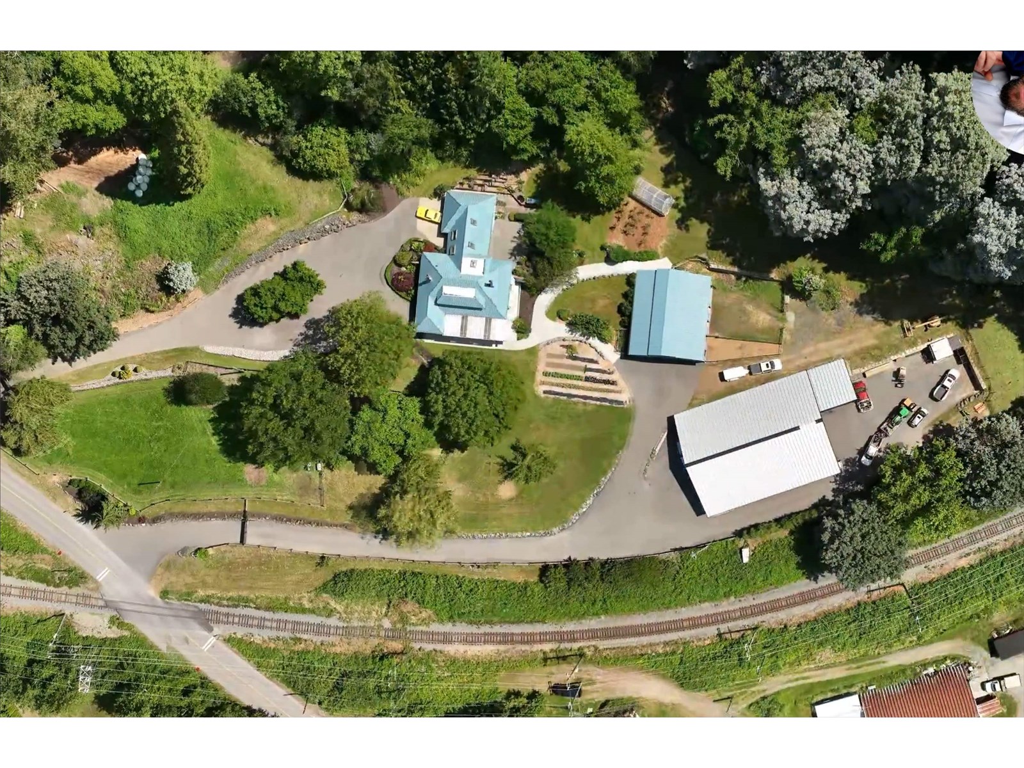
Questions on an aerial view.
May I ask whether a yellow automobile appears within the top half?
Yes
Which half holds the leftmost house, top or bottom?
top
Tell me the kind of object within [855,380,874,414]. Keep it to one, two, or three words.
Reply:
vehicle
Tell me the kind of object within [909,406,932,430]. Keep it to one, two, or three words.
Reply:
car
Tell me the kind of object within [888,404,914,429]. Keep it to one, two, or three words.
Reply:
work vehicle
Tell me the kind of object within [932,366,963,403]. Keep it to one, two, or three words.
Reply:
truck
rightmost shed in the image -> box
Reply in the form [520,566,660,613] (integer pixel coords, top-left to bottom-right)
[988,623,1024,659]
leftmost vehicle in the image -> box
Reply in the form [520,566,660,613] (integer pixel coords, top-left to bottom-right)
[415,207,442,224]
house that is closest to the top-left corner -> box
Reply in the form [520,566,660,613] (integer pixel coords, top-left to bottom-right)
[416,190,514,345]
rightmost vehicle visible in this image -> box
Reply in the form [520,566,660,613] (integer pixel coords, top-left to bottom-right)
[981,679,1006,696]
